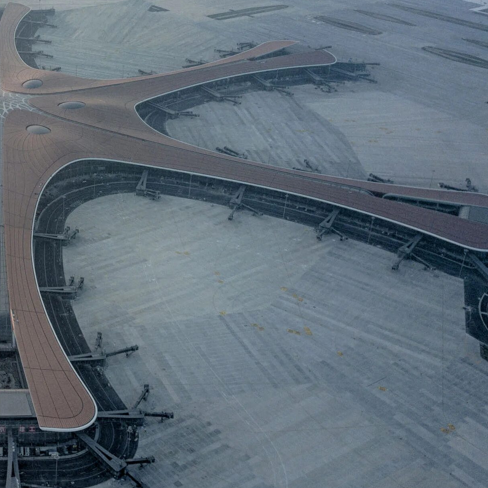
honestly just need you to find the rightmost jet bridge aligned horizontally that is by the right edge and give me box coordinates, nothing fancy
[436,179,481,192]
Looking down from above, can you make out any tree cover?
No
